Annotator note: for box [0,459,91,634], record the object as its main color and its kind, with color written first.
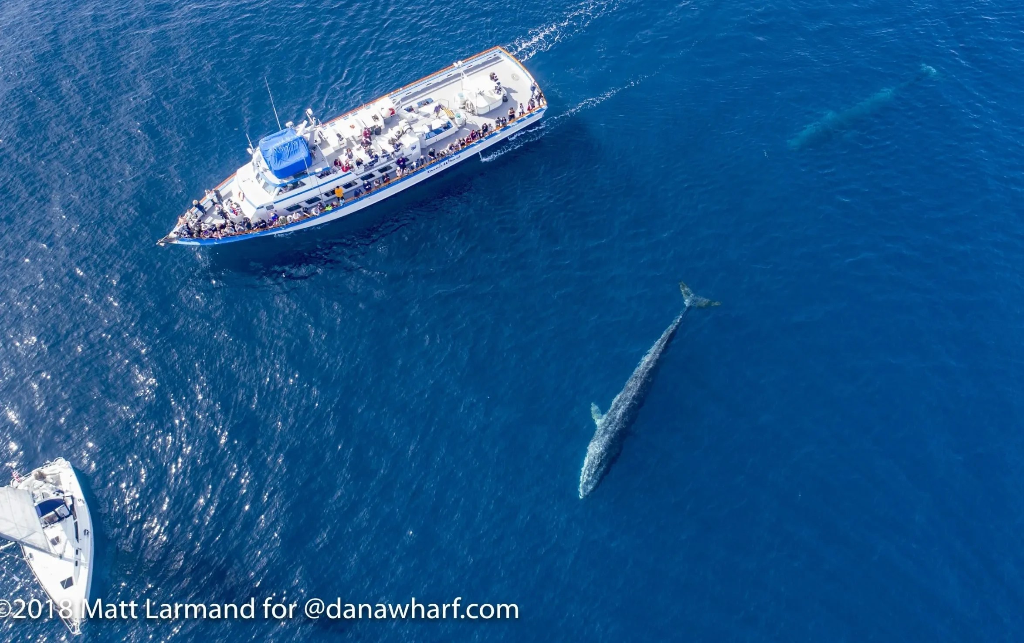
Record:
white boat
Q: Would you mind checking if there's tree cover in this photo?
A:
No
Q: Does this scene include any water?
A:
Yes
